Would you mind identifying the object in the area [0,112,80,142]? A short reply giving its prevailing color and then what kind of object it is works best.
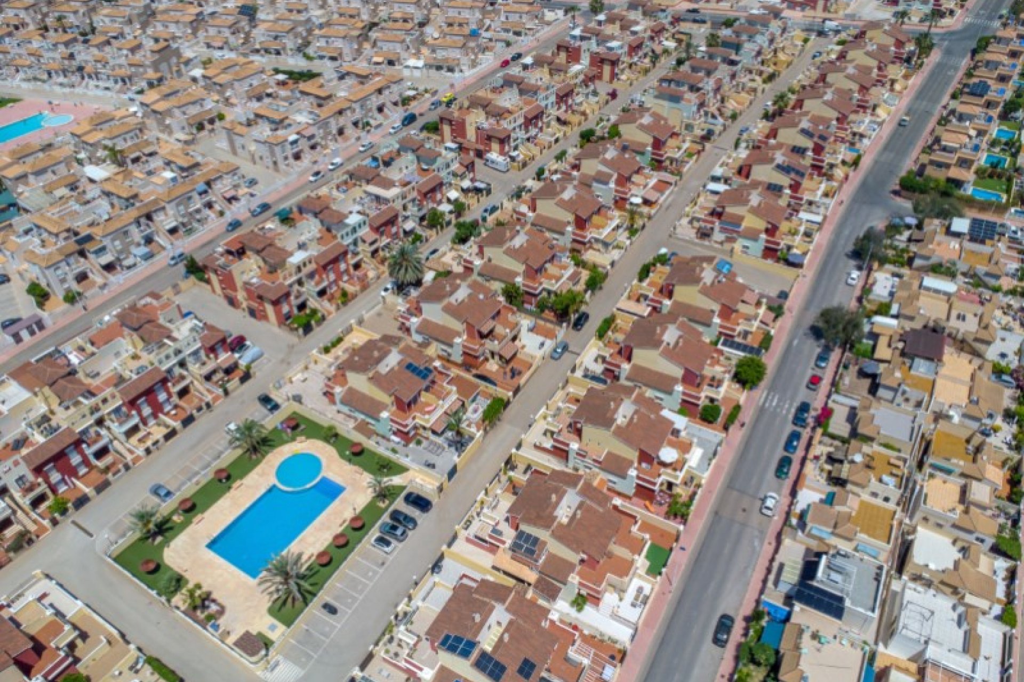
blue swimming pool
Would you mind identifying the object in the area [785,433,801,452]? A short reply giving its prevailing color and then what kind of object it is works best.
blue car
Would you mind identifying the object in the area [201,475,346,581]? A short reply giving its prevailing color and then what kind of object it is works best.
blue swimming pool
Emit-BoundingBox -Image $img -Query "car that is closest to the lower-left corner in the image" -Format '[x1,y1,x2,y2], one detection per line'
[150,485,173,502]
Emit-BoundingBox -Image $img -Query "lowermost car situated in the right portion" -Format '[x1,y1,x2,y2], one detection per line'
[711,613,734,649]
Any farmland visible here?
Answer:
No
